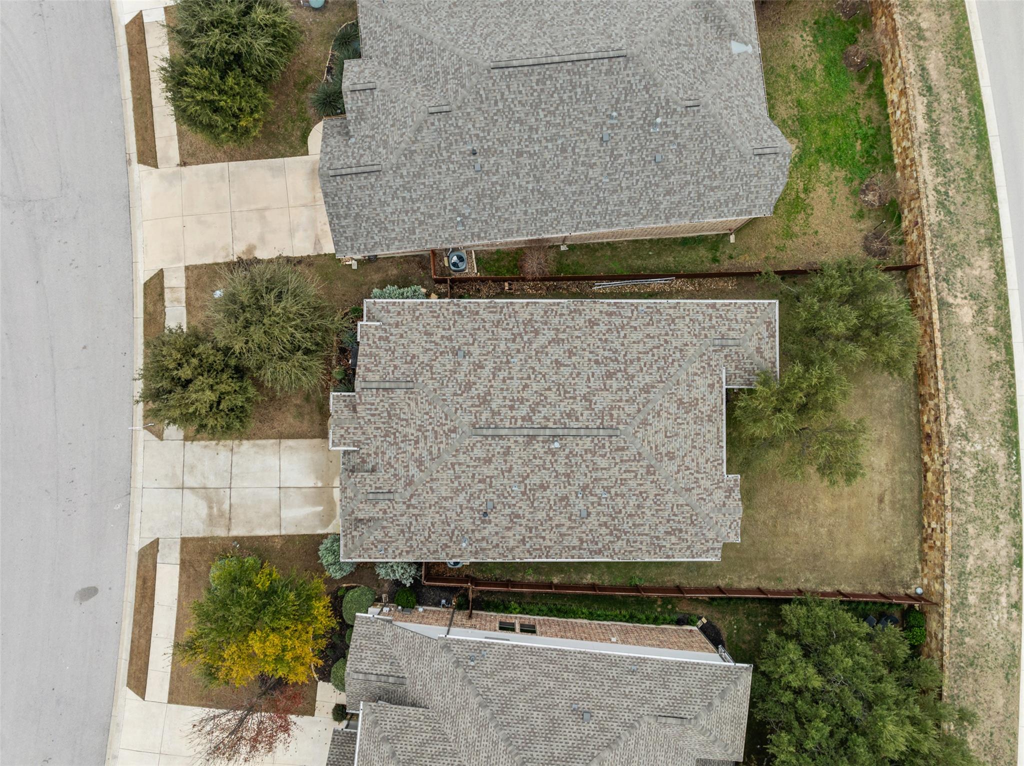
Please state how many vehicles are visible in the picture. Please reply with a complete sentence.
There are no vehicles in this view.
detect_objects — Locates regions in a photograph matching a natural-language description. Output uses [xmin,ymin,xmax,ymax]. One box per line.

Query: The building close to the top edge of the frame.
[319,0,792,264]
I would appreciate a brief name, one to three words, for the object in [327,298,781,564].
house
